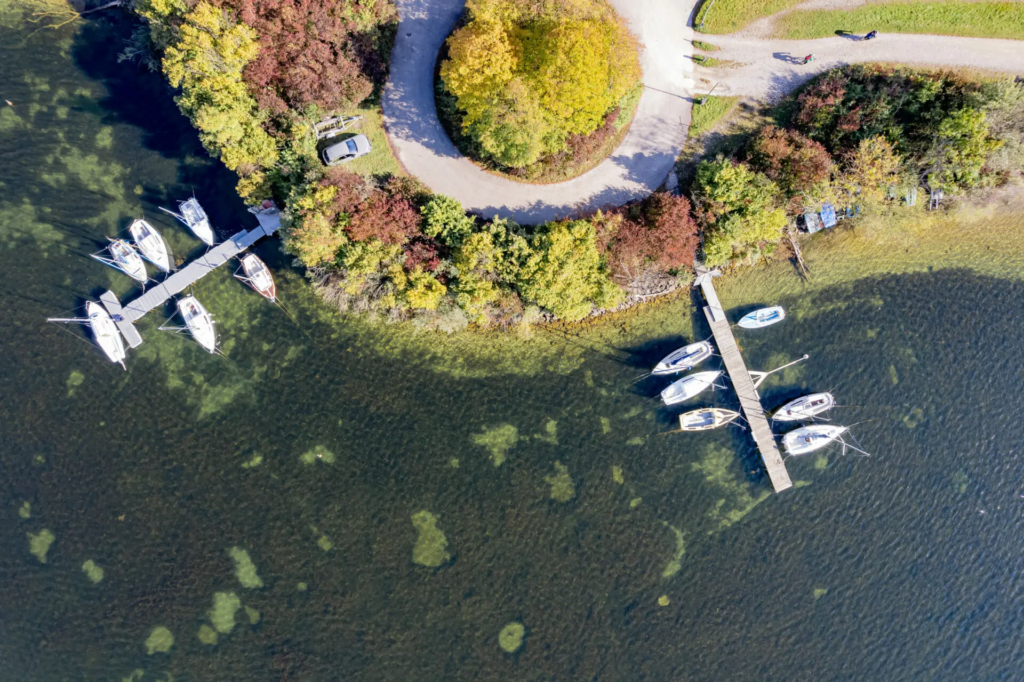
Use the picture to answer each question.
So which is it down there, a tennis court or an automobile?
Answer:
automobile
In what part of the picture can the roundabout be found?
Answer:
top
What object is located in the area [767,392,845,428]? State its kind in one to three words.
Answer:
boat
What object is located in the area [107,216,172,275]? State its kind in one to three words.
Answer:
boat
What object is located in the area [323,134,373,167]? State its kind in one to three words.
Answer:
car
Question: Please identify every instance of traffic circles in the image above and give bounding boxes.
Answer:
[381,0,698,227]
